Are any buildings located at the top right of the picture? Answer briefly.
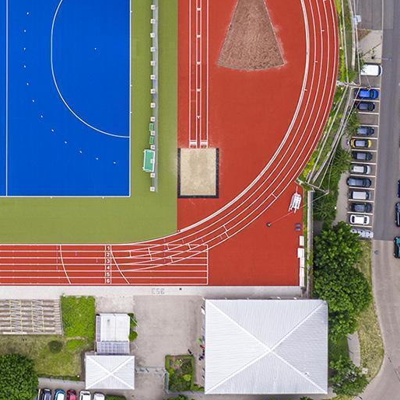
No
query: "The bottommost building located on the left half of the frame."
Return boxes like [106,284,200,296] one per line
[84,354,136,391]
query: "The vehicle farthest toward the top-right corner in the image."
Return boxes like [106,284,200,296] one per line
[357,64,384,77]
